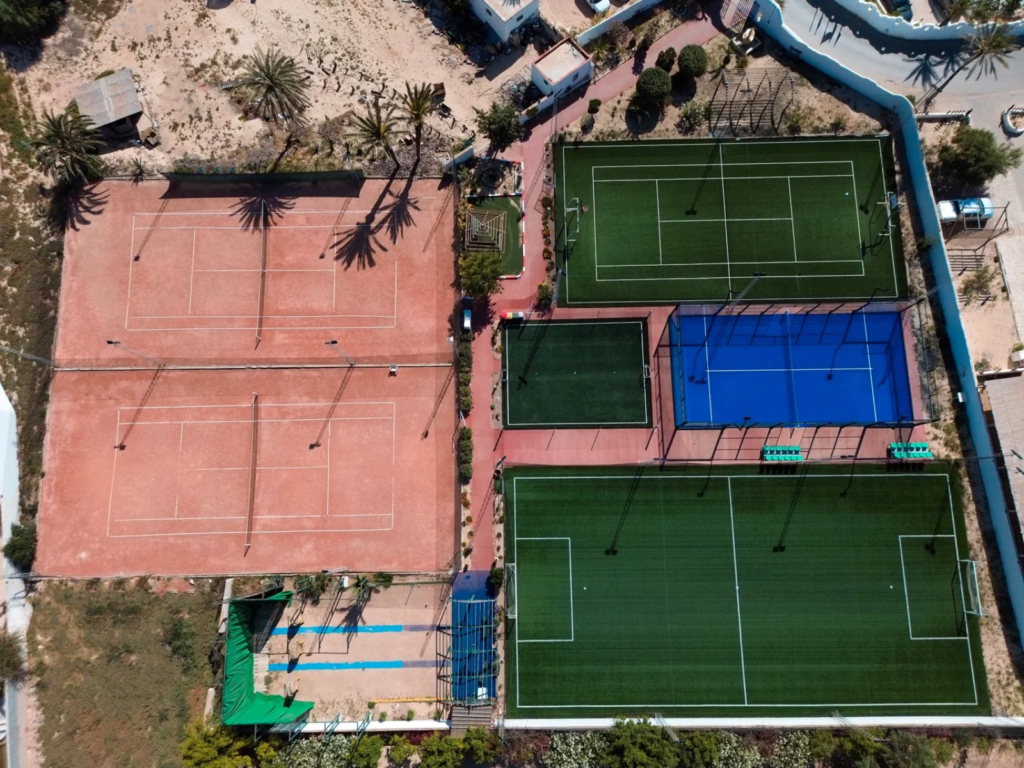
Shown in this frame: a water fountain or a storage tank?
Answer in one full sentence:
The one in the frame is a water fountain.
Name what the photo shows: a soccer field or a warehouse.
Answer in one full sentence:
Of the two, only a soccer field appears.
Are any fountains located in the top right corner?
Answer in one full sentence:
Yes, I can see a fountain in the top right corner.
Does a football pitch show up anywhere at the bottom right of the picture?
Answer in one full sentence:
Yes, the scene does show a football pitch at the bottom right of the picture.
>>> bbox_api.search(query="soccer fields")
[505,462,990,717]
[501,317,653,429]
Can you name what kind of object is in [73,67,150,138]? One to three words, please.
shed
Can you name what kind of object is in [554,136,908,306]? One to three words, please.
sports court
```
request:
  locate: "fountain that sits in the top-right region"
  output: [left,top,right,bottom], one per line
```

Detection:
[725,23,765,59]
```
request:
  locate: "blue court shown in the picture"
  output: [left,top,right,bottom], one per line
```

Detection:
[671,311,913,429]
